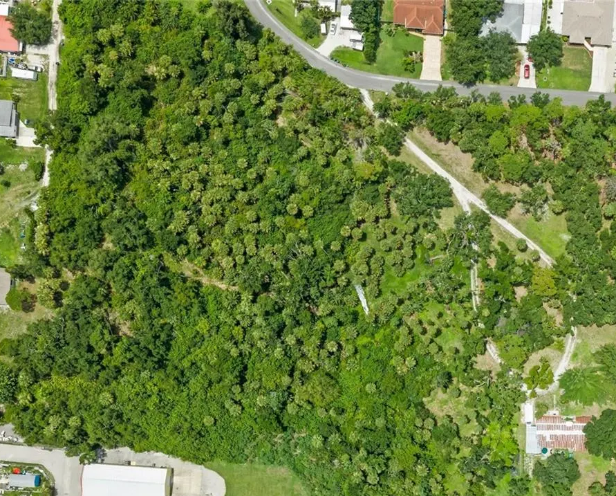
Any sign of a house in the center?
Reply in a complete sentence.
No, no house is visible in the center.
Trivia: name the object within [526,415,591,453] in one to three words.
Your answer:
house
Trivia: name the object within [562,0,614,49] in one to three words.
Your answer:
house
